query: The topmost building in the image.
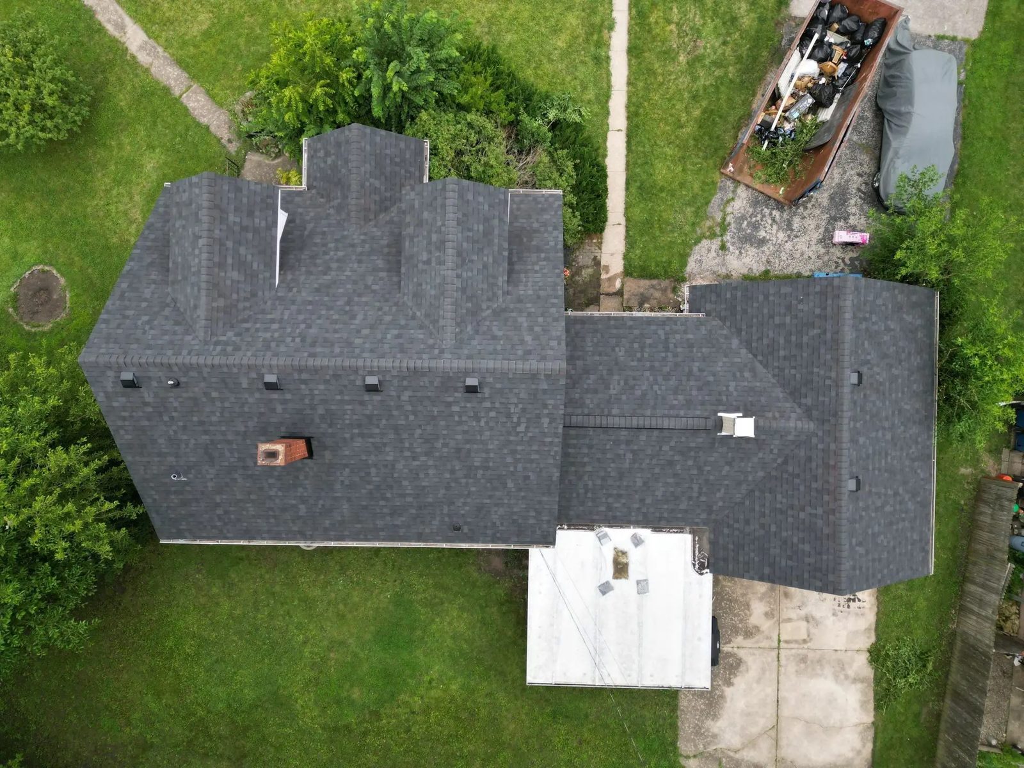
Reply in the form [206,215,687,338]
[80,124,942,595]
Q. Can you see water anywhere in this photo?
No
